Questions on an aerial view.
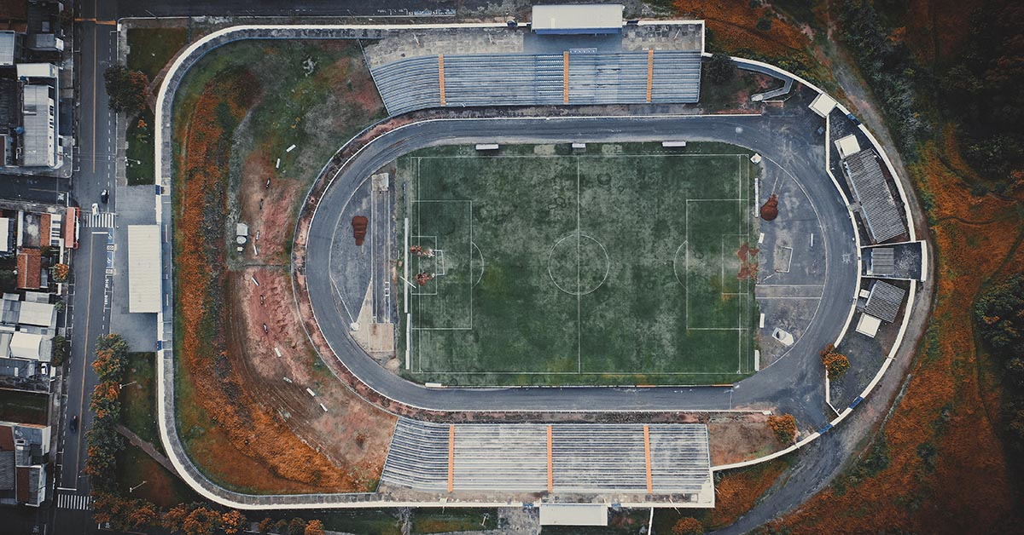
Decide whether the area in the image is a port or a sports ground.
sports ground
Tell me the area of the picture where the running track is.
center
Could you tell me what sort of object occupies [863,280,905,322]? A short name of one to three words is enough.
shed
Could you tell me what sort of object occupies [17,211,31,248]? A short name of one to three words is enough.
house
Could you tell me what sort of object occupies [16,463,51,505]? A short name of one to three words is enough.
house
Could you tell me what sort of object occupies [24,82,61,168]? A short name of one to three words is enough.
building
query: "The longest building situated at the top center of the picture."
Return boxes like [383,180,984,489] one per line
[531,3,623,35]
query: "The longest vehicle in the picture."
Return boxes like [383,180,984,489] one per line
[66,207,81,249]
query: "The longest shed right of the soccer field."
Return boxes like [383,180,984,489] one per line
[843,149,905,243]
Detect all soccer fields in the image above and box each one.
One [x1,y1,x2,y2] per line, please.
[397,142,759,389]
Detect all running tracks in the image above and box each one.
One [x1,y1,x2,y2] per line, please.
[306,114,858,412]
